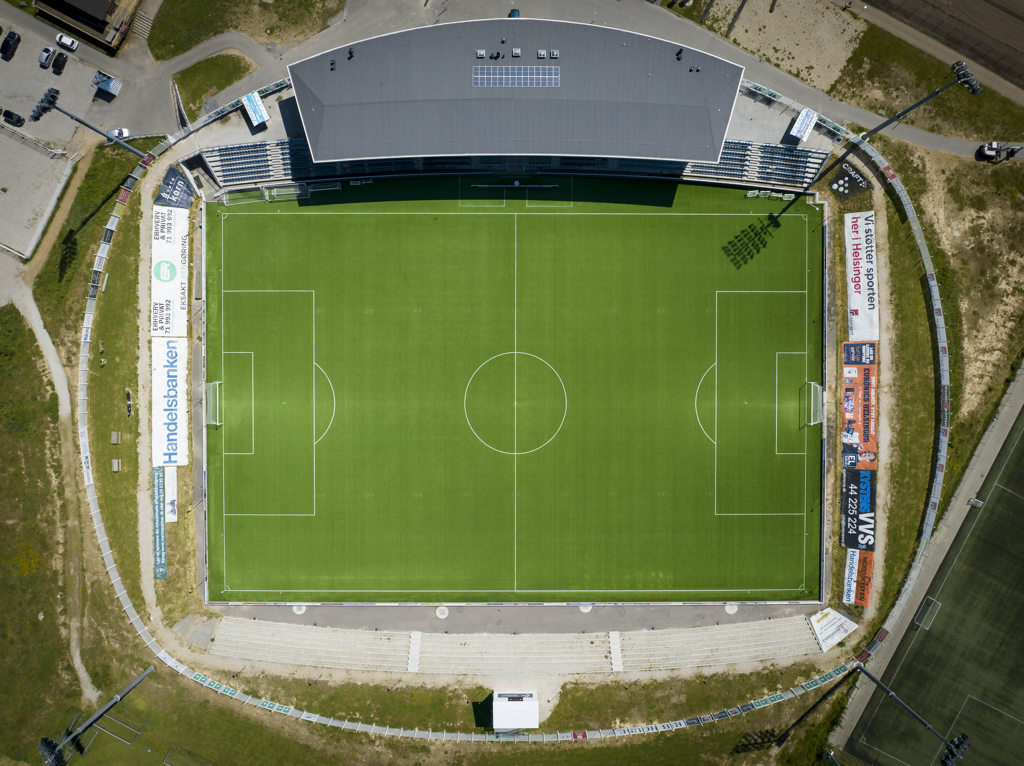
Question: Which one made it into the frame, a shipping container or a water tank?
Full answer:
It is a shipping container that can be seen here.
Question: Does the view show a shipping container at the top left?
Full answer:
Yes, a shipping container can be seen at the top left.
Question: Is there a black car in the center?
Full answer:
No, in the center there is no black car.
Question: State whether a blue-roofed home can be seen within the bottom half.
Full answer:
No, the scene shows no blue-roofed home within the bottom half.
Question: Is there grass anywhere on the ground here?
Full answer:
Yes, grass can be seen from above here.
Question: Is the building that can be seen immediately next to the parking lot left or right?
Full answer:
The building that can be seen immediately next to the parking lot appears in the left half of the scene.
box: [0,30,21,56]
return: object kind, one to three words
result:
car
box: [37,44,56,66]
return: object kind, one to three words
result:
car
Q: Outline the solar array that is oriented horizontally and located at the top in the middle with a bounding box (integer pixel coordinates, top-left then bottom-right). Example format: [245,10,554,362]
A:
[473,66,560,86]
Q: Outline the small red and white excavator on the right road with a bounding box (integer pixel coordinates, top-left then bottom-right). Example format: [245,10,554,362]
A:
[980,142,1023,159]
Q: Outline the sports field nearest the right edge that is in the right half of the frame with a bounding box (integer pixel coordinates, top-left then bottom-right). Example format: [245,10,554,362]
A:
[843,408,1024,766]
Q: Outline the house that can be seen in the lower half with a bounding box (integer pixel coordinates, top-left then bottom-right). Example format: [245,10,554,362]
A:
[493,691,539,741]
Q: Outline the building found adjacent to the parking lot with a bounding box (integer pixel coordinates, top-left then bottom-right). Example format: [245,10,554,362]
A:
[26,0,151,53]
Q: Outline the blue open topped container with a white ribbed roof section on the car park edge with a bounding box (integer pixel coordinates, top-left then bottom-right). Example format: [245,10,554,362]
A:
[91,70,129,99]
